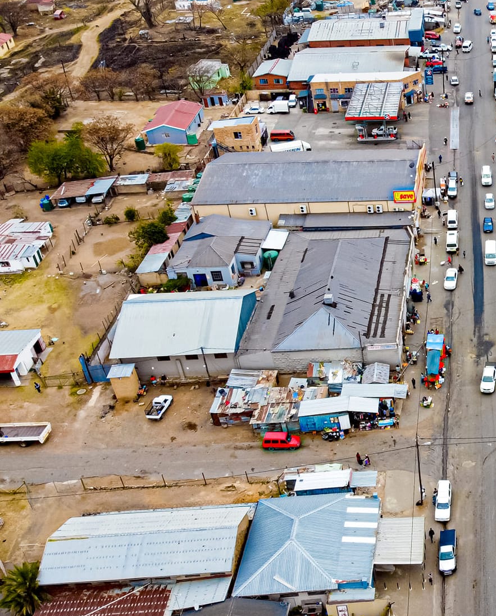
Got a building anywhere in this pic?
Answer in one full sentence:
Yes, the frame does contain a building.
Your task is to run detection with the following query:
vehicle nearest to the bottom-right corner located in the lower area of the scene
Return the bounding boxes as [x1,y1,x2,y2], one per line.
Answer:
[436,531,458,575]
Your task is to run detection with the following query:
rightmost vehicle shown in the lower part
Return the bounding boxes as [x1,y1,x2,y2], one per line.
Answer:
[480,363,496,394]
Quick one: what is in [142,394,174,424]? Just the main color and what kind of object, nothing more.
white truck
